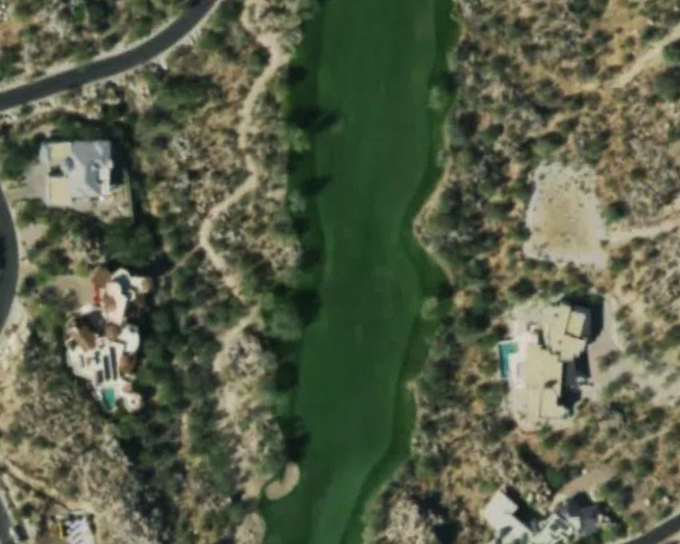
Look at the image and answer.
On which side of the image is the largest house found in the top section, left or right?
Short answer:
left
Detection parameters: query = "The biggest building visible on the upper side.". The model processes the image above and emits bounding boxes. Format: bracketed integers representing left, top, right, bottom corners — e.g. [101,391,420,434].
[39,141,134,219]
